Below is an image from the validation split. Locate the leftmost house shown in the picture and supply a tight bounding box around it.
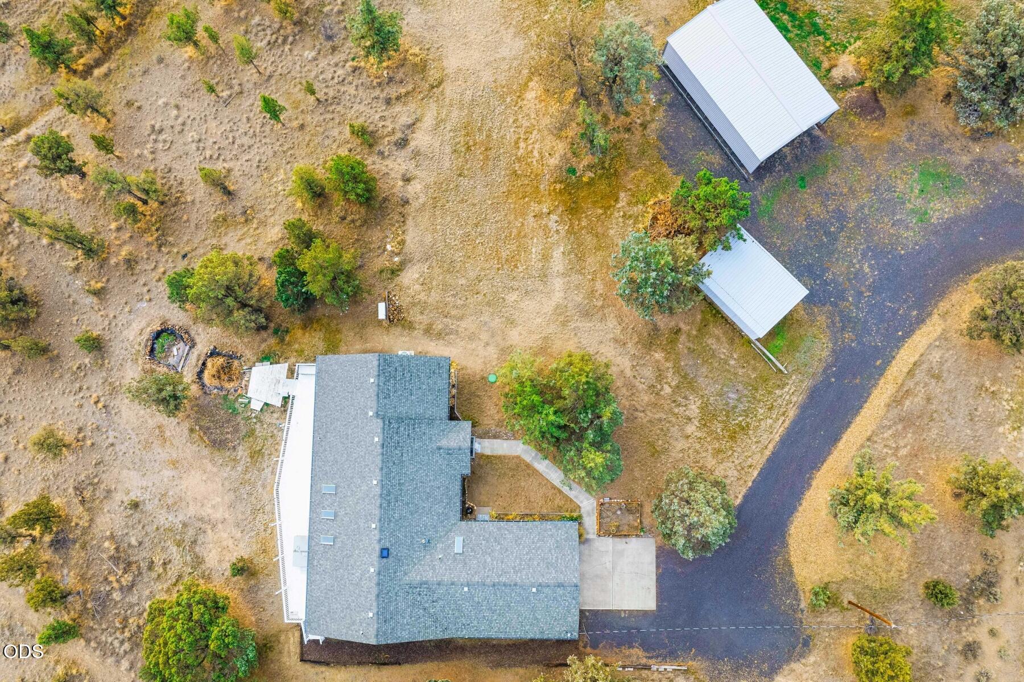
[304,354,582,646]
